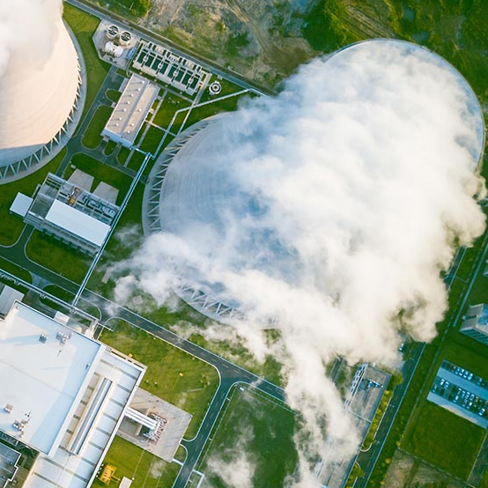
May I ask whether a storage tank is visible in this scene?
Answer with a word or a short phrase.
Yes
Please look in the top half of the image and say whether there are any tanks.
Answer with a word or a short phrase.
Yes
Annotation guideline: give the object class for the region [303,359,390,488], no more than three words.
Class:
building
